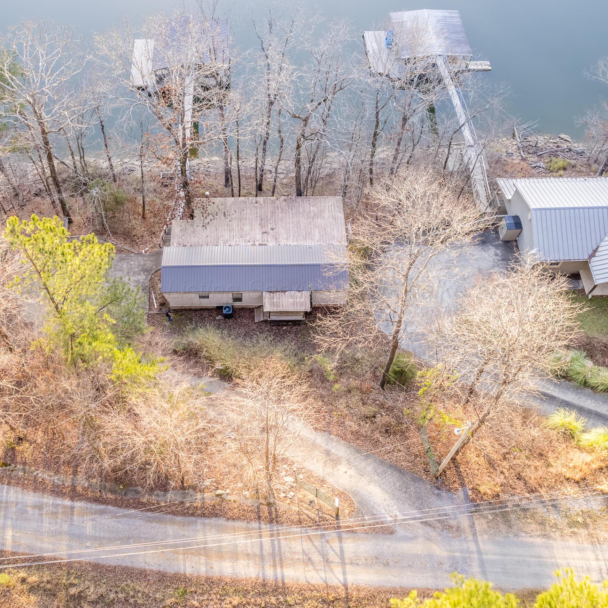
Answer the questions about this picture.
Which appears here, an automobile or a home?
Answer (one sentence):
Visible in the photo is a home.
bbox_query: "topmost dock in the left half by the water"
[133,12,232,104]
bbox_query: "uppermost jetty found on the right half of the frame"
[365,9,470,92]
